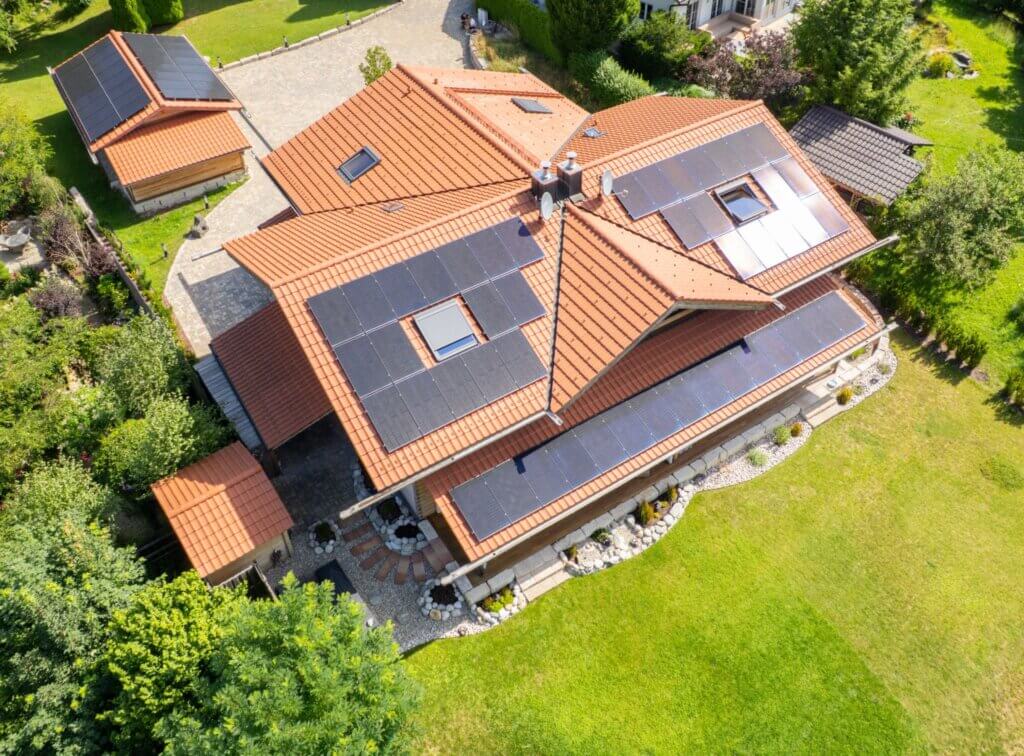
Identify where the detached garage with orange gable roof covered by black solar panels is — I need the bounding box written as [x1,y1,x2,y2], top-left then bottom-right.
[46,27,254,213]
